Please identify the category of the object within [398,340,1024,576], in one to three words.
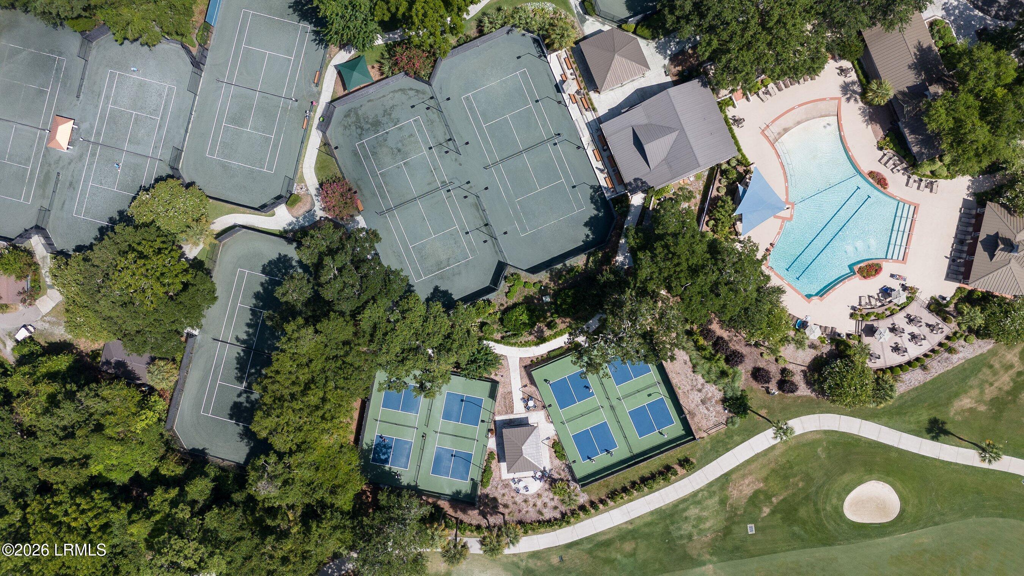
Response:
golf course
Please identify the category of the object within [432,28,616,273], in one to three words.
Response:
tennis court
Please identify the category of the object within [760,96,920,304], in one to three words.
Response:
swimming pool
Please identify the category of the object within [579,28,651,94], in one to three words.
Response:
building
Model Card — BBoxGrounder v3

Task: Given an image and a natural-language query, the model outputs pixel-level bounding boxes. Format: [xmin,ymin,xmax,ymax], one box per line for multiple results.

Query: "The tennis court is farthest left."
[0,1,92,238]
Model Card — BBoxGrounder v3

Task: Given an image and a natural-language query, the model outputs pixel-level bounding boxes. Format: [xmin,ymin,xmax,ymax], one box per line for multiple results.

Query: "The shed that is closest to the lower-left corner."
[100,343,160,383]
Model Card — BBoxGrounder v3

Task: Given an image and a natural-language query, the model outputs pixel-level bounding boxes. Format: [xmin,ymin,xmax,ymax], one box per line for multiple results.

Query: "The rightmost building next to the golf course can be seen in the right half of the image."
[957,202,1024,298]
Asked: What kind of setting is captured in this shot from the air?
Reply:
sports ground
